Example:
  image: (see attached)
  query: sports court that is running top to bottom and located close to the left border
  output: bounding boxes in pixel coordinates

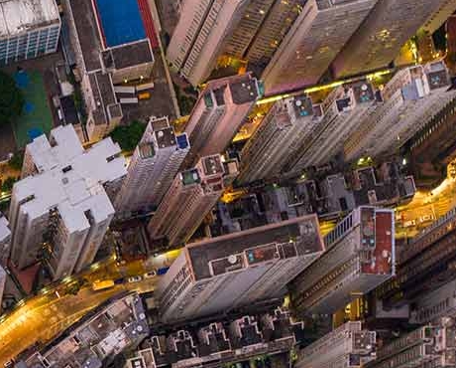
[16,69,52,147]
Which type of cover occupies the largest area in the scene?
buildings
